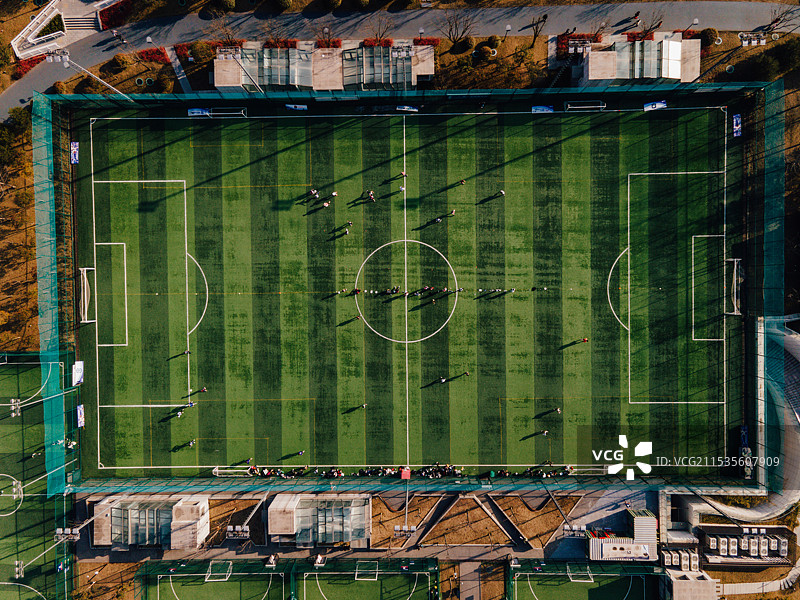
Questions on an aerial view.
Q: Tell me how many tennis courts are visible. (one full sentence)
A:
No tennis courts are visible.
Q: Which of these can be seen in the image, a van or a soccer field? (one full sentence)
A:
It is a soccer field that can be seen here.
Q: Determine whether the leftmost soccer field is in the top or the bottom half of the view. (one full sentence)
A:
The leftmost soccer field is in the bottom half of the image.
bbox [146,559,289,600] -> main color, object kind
green soccer field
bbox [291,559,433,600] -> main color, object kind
green soccer field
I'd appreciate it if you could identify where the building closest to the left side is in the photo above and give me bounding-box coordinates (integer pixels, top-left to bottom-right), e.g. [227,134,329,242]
[94,495,209,553]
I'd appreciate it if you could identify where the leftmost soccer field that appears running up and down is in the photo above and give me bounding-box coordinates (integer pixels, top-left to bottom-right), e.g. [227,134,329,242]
[0,356,82,600]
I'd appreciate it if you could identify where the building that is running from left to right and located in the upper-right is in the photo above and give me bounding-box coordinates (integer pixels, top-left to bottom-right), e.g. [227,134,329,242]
[570,39,701,89]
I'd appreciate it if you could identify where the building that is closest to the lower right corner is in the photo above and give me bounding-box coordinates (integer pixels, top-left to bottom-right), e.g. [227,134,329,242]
[662,568,721,600]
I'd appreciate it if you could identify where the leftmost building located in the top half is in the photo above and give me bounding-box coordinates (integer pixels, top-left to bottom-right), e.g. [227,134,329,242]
[207,45,434,96]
